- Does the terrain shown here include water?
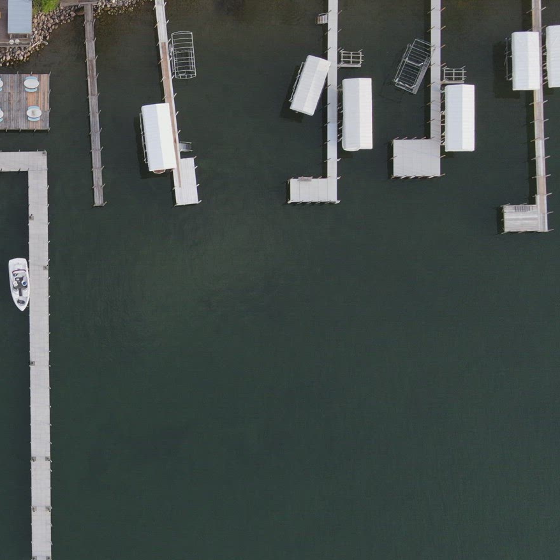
Yes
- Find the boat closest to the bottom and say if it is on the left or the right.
left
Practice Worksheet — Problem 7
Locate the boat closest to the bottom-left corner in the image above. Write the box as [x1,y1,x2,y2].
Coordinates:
[8,257,30,311]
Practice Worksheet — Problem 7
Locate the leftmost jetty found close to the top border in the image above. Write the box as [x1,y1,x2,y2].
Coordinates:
[83,5,104,207]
